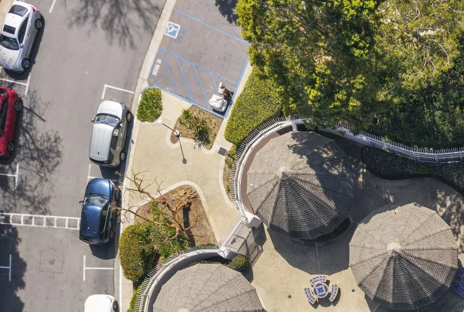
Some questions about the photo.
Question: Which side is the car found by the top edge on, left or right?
left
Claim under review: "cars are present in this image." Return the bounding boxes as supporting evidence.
[90,100,131,168]
[0,88,27,154]
[0,0,39,70]
[82,179,123,245]
[87,295,118,312]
